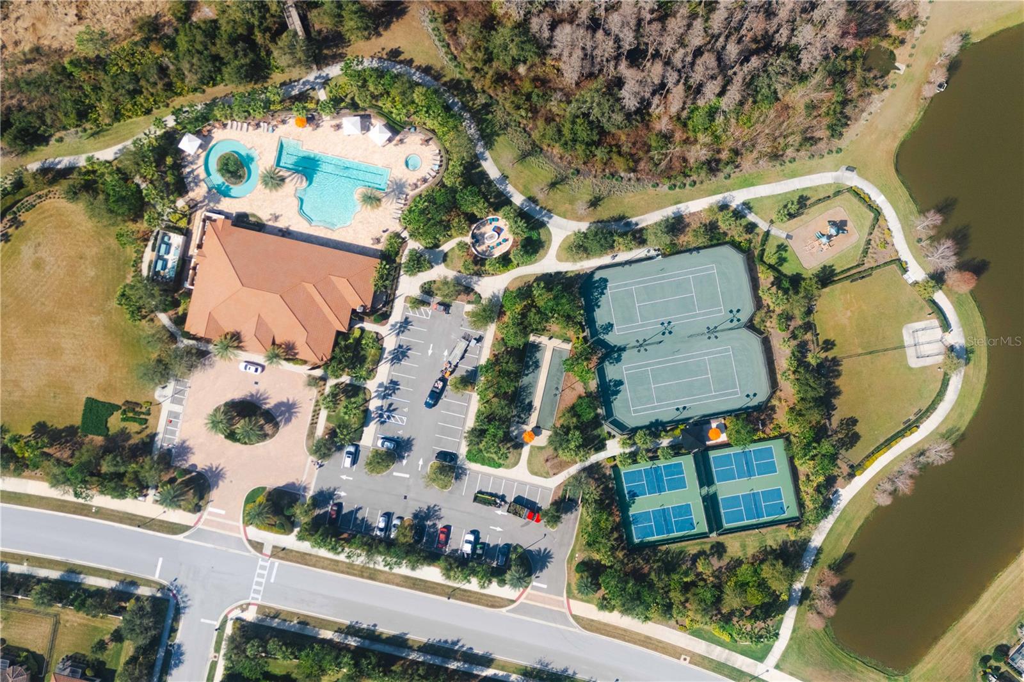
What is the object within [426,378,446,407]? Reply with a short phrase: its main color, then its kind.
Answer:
blue vehicle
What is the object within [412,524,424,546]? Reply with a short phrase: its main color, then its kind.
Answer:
black vehicle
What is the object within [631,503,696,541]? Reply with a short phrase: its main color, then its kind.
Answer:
blue sports court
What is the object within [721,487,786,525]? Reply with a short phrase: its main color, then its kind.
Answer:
blue sports court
